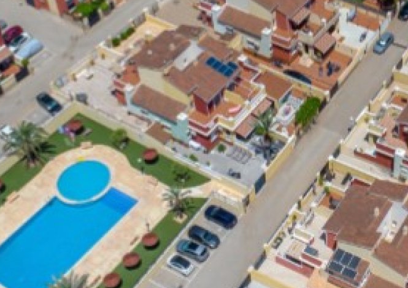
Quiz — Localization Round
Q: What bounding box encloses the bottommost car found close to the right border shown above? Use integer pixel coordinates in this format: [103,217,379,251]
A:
[374,33,393,53]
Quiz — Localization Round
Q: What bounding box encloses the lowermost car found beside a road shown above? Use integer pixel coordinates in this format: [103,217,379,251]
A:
[164,252,197,278]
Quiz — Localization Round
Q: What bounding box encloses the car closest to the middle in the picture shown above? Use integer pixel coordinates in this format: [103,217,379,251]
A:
[205,207,237,229]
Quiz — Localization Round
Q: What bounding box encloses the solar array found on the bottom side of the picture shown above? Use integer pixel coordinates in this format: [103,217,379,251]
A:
[331,250,361,282]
